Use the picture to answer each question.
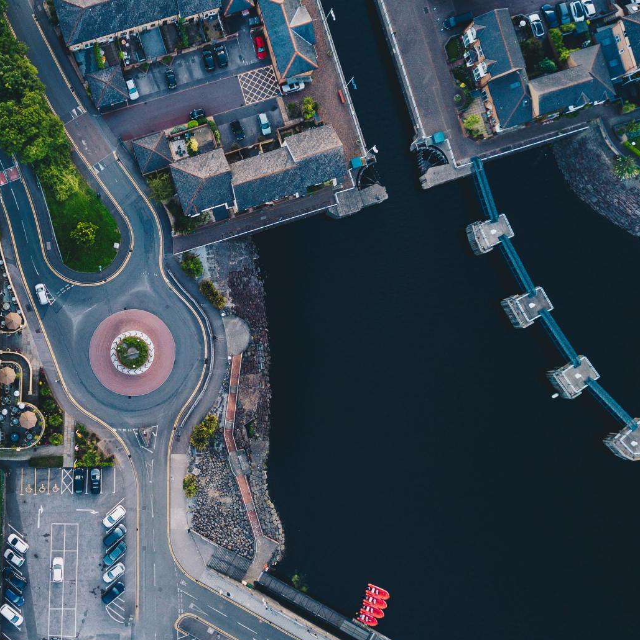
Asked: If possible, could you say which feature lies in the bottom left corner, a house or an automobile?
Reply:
automobile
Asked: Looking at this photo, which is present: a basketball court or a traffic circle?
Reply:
traffic circle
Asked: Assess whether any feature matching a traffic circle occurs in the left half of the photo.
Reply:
Yes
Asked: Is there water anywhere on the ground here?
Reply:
Yes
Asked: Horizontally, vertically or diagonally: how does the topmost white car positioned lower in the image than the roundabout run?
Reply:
diagonally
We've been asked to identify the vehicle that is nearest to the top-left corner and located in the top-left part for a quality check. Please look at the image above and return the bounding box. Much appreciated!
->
[125,75,140,100]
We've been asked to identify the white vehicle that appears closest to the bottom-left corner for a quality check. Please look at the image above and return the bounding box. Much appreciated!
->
[0,603,26,627]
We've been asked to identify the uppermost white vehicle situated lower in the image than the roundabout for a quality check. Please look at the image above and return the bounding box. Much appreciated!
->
[103,506,128,530]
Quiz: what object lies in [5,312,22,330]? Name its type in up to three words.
umbrella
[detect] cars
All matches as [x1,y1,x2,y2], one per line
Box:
[164,68,177,90]
[582,0,597,20]
[103,506,128,530]
[245,14,260,27]
[256,111,273,136]
[0,603,26,627]
[100,581,127,605]
[72,466,85,494]
[2,565,28,591]
[90,467,103,495]
[528,13,546,36]
[187,107,209,120]
[104,542,127,564]
[202,47,217,72]
[7,533,30,555]
[125,75,140,100]
[230,117,246,142]
[555,0,574,28]
[101,523,128,548]
[253,34,268,61]
[35,281,50,307]
[51,557,64,582]
[541,2,558,27]
[3,586,28,609]
[103,562,126,584]
[569,0,586,22]
[2,547,27,570]
[279,83,308,97]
